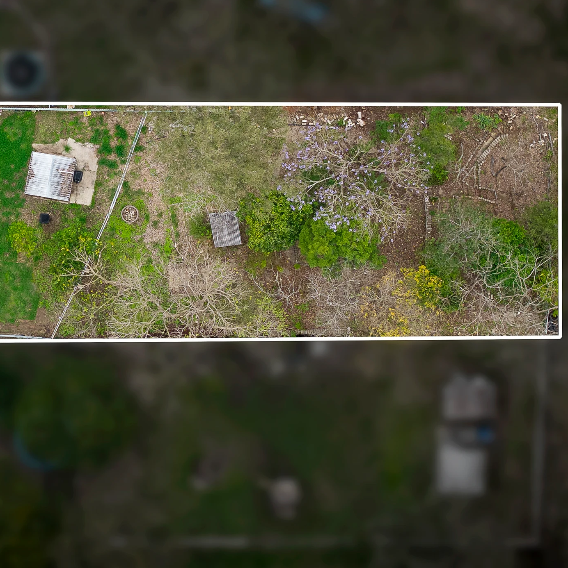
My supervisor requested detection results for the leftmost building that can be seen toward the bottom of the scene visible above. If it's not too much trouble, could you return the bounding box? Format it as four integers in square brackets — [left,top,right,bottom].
[273,478,306,520]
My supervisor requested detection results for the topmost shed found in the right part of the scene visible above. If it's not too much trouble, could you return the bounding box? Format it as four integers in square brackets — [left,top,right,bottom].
[438,379,497,422]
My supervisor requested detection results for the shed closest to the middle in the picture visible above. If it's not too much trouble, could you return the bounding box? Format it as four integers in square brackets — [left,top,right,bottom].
[206,211,241,247]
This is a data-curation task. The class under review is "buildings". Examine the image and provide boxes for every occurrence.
[438,379,497,422]
[273,478,306,520]
[206,211,241,247]
[25,151,76,201]
[430,443,485,496]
